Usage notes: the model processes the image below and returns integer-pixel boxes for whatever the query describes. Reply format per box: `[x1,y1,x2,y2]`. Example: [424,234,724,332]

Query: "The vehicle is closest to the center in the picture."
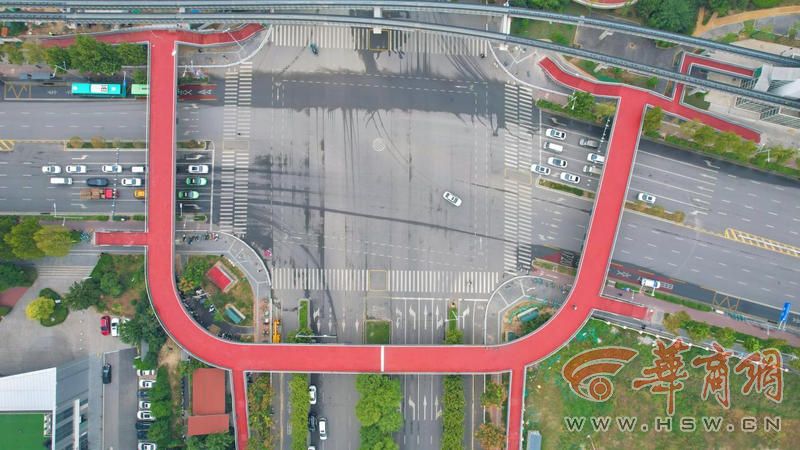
[442,191,462,206]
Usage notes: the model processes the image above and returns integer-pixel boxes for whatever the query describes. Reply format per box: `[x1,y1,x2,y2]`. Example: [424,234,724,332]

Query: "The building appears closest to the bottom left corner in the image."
[0,355,87,450]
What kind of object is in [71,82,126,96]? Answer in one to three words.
vehicle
